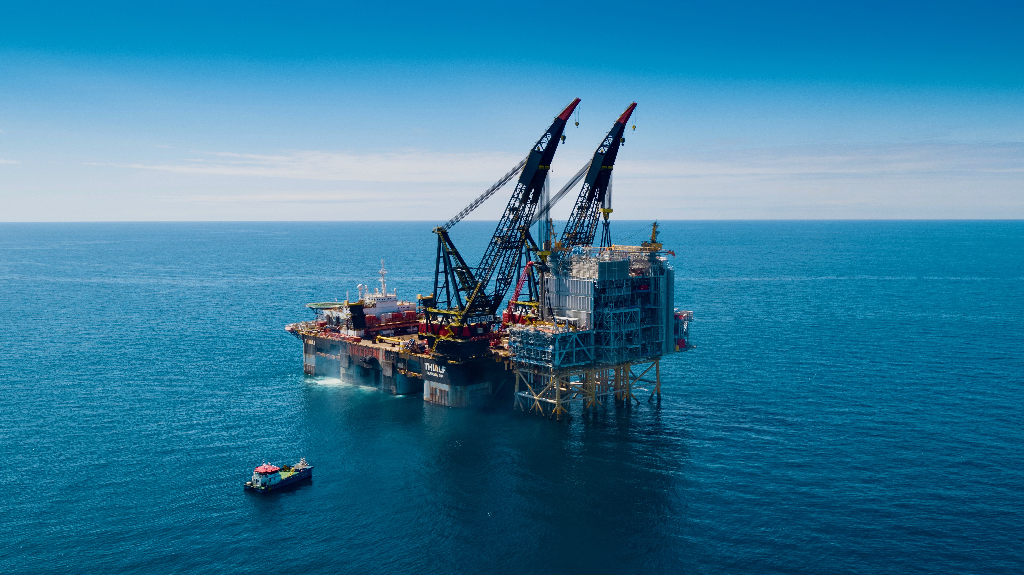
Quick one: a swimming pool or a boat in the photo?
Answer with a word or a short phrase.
boat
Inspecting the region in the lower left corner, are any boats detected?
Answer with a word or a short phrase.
Yes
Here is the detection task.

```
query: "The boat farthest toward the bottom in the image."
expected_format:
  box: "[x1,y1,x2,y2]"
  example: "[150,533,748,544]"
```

[245,454,312,493]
